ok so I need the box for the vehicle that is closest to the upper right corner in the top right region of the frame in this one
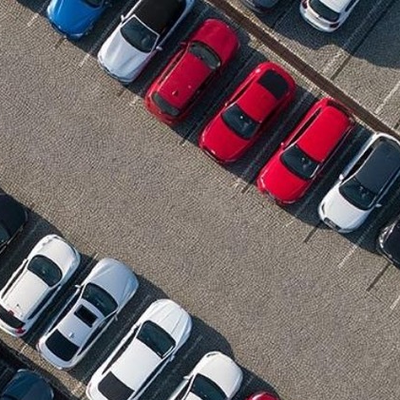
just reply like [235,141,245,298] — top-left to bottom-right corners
[299,0,365,37]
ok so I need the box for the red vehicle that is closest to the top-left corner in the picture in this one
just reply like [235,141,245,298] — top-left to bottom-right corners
[142,20,240,127]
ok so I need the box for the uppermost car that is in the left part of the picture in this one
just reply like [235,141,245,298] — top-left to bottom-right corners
[51,0,115,39]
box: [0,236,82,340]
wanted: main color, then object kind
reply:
white car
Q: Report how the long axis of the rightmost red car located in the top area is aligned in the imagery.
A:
at an angle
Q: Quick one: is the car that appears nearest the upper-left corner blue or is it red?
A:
blue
